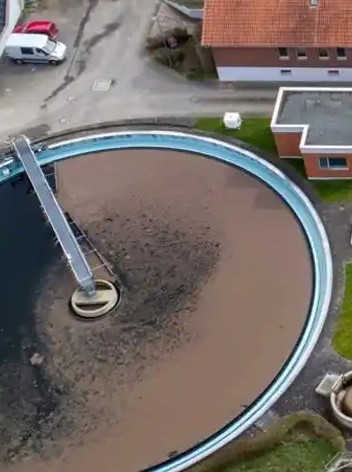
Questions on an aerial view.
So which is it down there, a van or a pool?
van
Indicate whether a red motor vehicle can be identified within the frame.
Yes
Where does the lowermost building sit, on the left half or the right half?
right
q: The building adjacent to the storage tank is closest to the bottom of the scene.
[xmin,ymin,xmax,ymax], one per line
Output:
[271,88,352,178]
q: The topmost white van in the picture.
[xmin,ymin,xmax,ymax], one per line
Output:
[3,31,68,62]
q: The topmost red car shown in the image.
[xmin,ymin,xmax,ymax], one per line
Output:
[13,19,62,39]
